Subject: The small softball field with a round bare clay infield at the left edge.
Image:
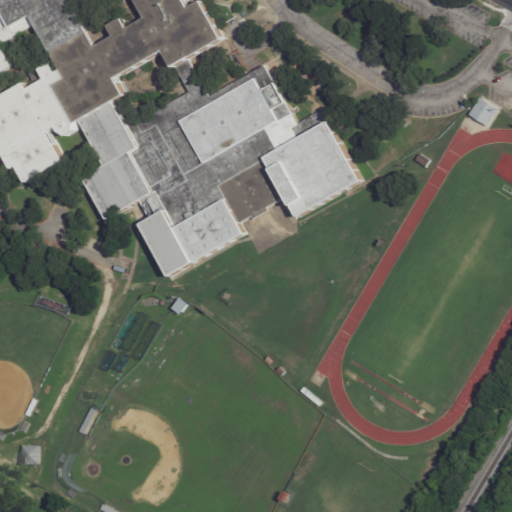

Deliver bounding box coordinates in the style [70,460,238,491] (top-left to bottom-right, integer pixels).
[0,303,70,432]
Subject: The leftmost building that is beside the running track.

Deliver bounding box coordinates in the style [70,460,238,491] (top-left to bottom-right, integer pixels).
[0,0,364,277]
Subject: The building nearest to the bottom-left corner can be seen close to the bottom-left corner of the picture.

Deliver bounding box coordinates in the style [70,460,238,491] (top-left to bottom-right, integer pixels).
[22,445,43,465]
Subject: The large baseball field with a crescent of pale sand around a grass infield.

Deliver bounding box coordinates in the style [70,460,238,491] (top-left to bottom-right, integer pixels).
[71,314,326,512]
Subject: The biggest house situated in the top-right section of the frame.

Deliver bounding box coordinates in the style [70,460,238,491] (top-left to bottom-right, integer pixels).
[469,97,499,126]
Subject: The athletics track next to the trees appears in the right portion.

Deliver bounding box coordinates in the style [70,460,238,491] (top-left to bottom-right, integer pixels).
[318,91,512,444]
